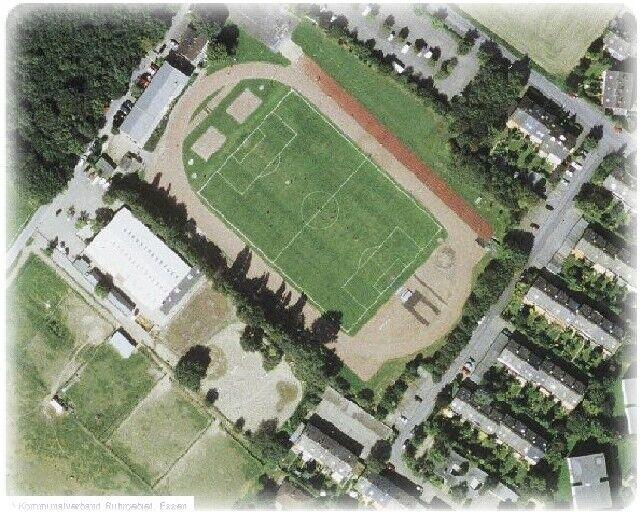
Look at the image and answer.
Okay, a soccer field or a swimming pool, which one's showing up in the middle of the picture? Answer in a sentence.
Looking in the middle of the picture, you will find a soccer field.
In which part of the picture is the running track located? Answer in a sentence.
Look in the center portion of the view to spot the running track.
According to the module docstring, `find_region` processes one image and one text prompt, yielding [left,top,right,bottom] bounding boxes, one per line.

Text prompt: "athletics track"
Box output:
[154,53,494,381]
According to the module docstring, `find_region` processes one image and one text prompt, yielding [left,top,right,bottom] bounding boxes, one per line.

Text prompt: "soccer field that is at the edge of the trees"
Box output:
[182,78,451,339]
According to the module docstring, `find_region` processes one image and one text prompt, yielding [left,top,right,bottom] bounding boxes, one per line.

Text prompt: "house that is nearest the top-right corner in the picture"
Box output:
[602,31,636,62]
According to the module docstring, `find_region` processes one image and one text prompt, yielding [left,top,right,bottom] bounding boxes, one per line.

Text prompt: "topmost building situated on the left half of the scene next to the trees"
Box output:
[176,28,207,61]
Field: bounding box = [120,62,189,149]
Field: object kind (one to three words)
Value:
shed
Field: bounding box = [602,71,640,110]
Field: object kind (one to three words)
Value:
house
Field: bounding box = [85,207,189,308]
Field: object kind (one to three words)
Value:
building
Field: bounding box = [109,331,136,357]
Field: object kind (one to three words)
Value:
shed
